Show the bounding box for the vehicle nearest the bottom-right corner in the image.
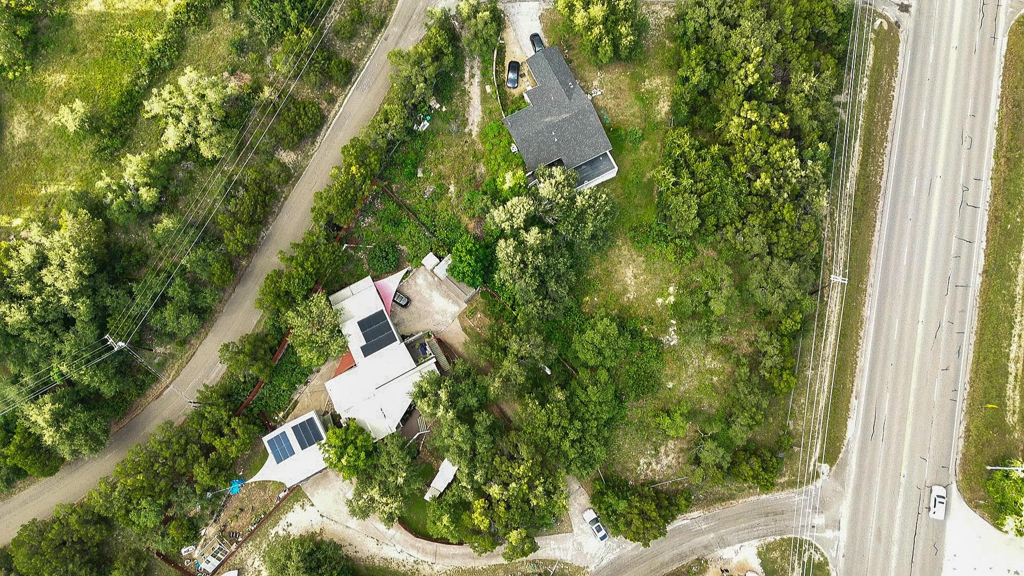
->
[927,486,949,519]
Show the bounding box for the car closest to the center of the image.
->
[392,289,414,311]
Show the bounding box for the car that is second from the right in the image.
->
[585,508,607,542]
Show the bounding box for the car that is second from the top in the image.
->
[505,60,520,89]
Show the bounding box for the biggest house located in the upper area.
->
[502,46,618,190]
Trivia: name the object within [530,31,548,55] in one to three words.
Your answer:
car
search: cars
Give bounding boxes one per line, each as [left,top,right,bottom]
[530,31,548,55]
[392,289,414,311]
[505,60,520,89]
[585,508,607,542]
[927,486,949,519]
